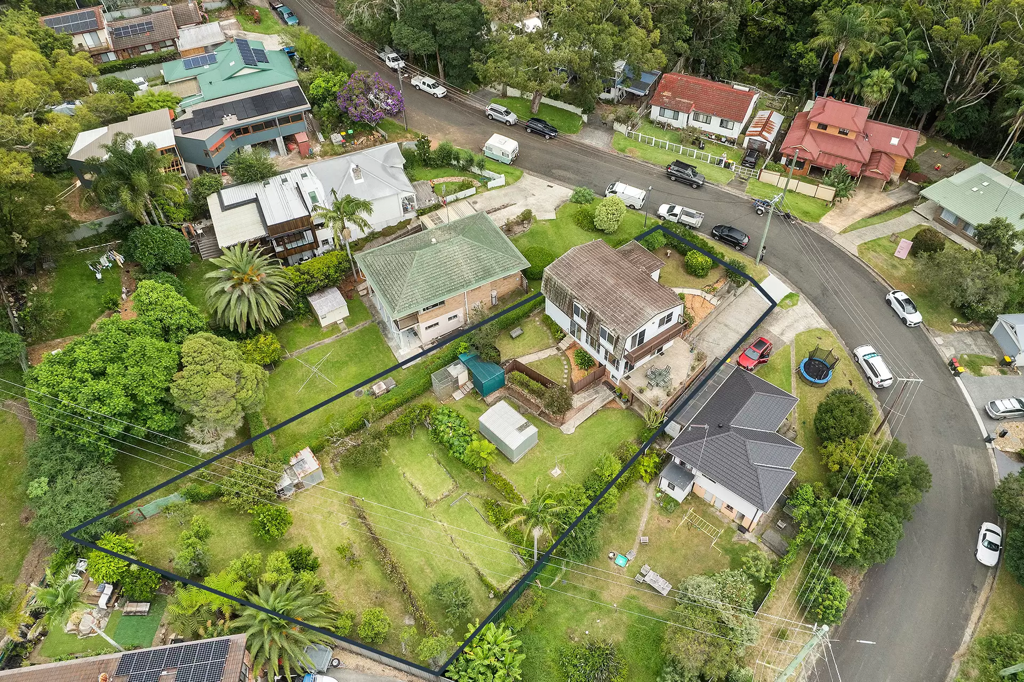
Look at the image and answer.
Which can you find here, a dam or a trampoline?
trampoline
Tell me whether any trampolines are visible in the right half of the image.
Yes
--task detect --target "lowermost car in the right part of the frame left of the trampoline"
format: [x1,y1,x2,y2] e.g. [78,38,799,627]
[738,334,775,375]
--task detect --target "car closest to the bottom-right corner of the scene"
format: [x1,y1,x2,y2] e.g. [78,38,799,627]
[971,516,1007,572]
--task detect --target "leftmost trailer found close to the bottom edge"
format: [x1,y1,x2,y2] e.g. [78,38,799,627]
[298,644,352,677]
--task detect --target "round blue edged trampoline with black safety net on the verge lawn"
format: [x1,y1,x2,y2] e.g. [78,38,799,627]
[794,348,837,388]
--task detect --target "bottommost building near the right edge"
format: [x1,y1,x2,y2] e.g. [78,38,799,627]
[990,305,1024,361]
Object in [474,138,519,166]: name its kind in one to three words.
camper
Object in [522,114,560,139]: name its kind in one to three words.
car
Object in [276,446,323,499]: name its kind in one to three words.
shed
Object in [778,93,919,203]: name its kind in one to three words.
house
